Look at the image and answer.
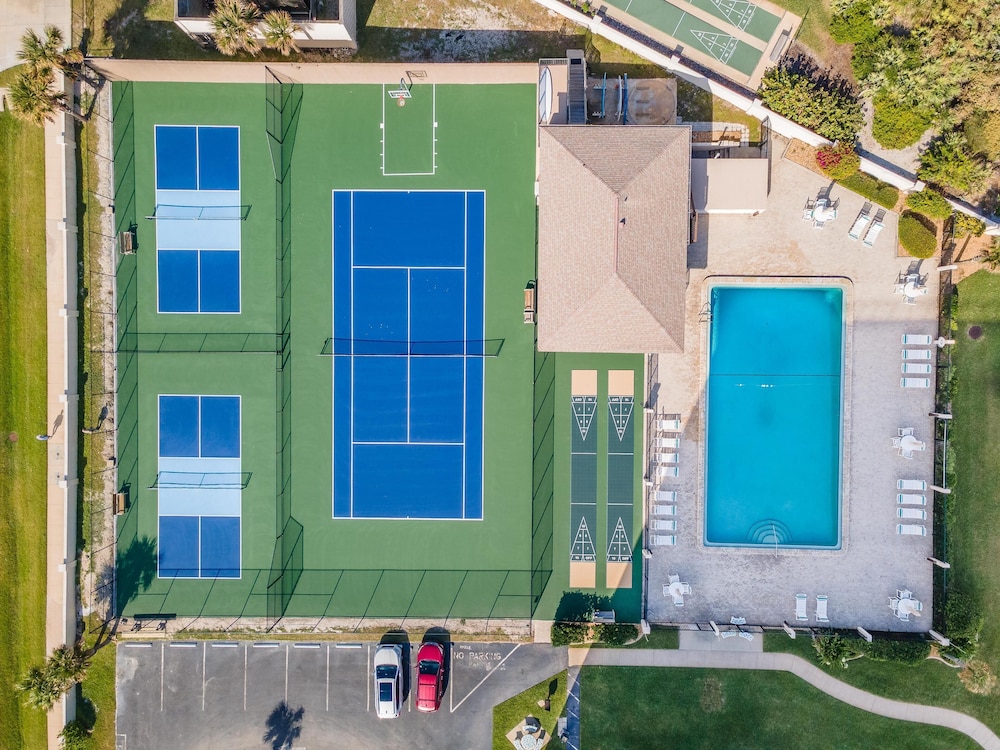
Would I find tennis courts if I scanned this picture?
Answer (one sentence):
Yes, there's a tennis court down there.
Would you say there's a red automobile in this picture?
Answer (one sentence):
Yes, the picture does show a red automobile.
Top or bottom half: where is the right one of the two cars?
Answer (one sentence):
You can find the right one of the two cars in the bottom half.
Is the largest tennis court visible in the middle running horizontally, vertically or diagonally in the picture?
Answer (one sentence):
I'd say the largest tennis court visible in the middle is aligned vertically in the picture.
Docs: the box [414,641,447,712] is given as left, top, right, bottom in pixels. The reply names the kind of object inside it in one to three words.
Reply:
car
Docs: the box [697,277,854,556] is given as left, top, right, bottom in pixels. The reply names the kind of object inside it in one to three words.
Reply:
swimming pool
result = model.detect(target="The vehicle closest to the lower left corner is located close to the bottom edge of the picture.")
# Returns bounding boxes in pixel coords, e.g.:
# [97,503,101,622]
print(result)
[371,644,405,718]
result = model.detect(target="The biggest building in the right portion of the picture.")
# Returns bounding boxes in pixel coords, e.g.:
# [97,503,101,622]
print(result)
[536,123,689,354]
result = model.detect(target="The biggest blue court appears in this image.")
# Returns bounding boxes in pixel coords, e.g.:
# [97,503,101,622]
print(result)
[332,189,485,521]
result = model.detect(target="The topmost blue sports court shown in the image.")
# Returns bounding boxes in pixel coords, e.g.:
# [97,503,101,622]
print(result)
[154,125,241,313]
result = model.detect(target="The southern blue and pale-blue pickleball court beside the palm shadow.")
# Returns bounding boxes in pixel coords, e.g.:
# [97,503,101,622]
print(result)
[157,395,241,579]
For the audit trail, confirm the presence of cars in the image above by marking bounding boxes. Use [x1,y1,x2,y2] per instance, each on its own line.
[414,641,447,712]
[371,644,405,718]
